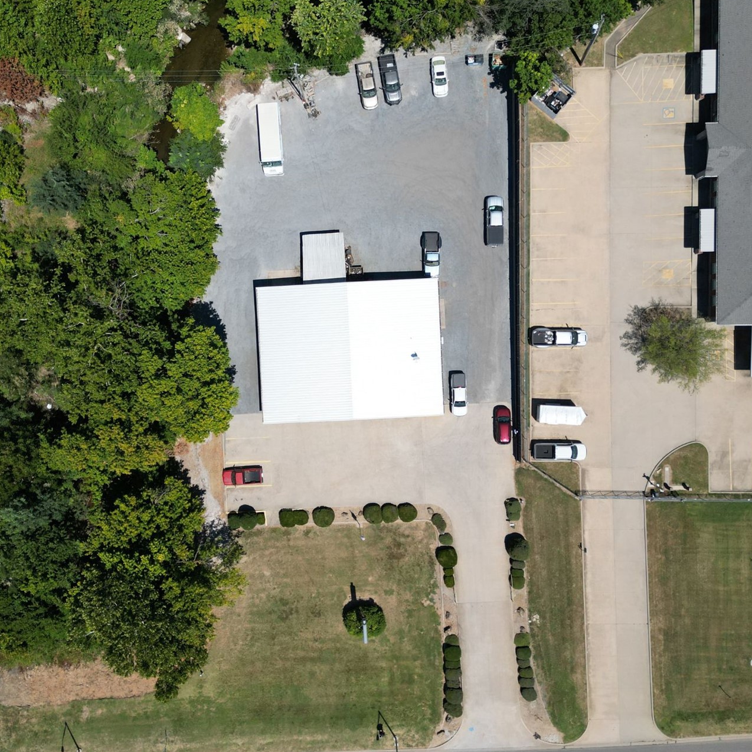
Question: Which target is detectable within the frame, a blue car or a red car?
red car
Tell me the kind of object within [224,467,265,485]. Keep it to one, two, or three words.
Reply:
vehicle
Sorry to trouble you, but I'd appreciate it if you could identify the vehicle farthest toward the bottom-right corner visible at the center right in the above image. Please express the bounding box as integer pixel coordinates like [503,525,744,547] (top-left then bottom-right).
[533,441,584,461]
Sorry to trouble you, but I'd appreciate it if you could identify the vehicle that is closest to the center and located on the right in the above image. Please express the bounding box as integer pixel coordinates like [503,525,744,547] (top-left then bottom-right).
[449,370,466,416]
